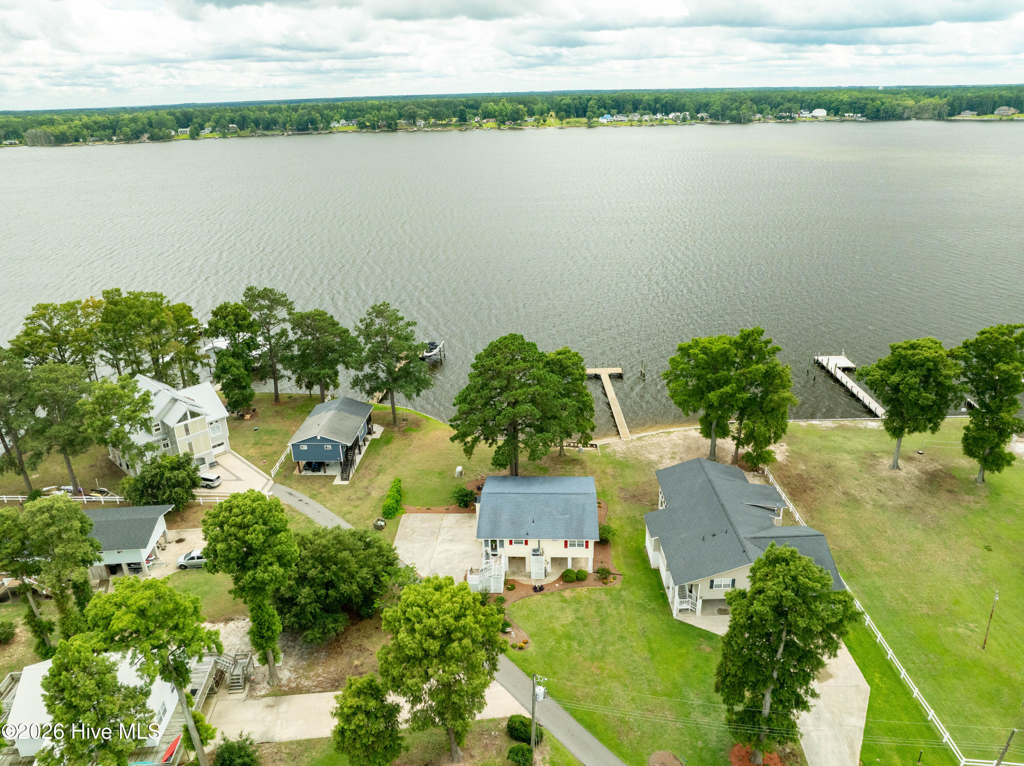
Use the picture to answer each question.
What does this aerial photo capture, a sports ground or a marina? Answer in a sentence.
This looks like a marina.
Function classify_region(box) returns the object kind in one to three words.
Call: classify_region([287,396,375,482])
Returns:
house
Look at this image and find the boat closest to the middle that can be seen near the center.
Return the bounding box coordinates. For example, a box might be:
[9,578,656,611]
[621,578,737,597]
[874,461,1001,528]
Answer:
[420,340,442,356]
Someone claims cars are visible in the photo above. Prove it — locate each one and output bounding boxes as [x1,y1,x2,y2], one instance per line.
[174,548,219,569]
[194,472,220,489]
